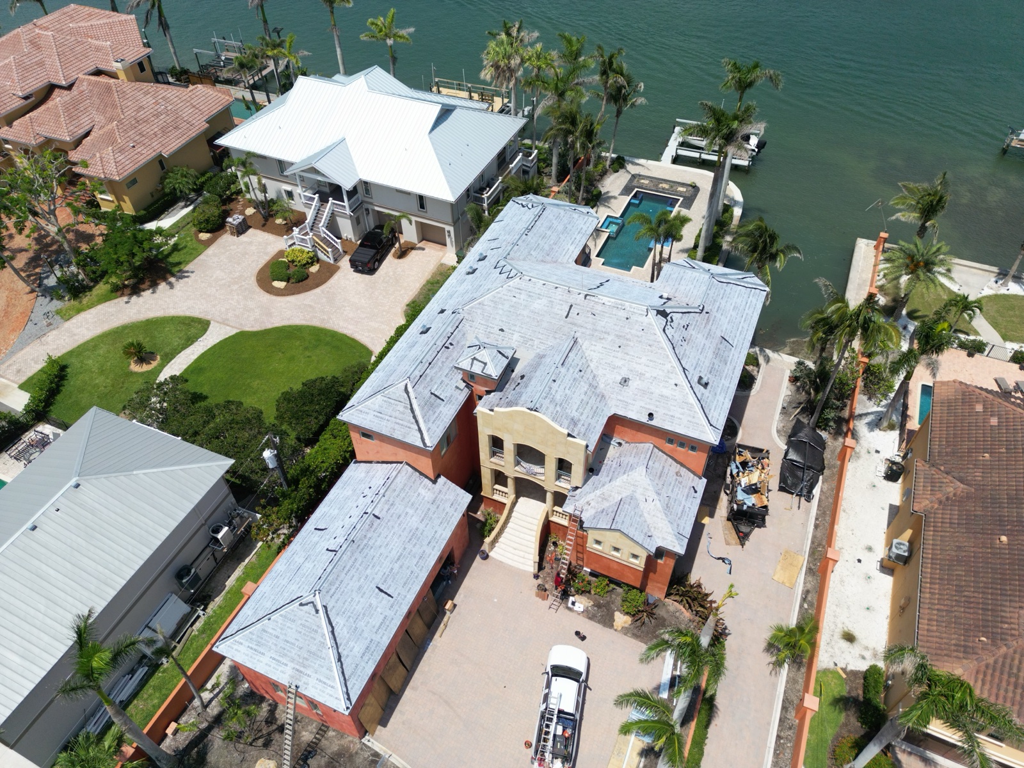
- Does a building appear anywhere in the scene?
Yes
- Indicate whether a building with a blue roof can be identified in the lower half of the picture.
No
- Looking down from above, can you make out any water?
Yes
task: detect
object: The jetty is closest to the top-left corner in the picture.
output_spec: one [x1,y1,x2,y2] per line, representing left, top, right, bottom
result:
[180,14,298,88]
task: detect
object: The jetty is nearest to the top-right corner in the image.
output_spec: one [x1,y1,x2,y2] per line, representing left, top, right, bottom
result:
[993,118,1024,162]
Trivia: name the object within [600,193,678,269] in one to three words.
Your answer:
swimming pool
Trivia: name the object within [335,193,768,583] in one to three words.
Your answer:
house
